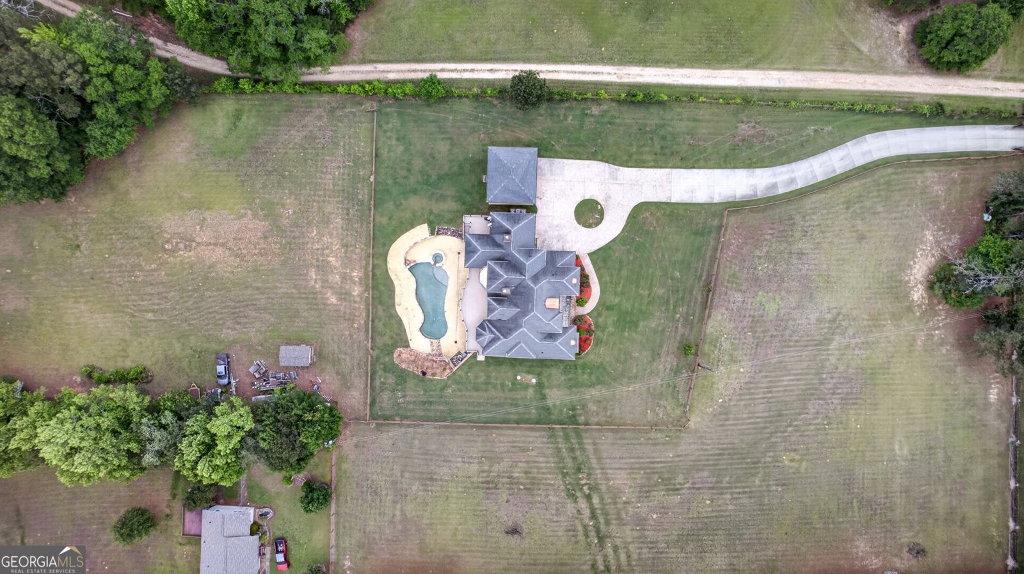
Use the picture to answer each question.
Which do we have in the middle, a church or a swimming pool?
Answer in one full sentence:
The feature located in the middle is a swimming pool.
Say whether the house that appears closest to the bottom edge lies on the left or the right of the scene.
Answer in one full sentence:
It is on the left.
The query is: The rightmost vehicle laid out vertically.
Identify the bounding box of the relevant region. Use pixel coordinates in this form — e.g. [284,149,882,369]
[275,538,292,572]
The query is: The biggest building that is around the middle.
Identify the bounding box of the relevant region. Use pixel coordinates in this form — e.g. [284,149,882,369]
[465,212,581,360]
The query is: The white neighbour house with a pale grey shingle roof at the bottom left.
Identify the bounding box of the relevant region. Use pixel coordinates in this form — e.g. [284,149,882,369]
[202,506,265,574]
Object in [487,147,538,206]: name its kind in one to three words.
building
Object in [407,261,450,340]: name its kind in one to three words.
swimming pool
